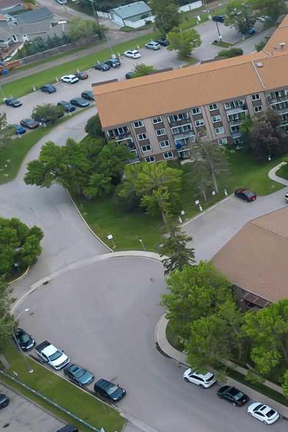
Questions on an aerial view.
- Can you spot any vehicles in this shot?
Yes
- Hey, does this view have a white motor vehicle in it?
Yes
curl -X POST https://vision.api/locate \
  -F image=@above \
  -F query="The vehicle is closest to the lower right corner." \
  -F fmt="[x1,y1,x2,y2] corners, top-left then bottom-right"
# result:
[247,404,280,426]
